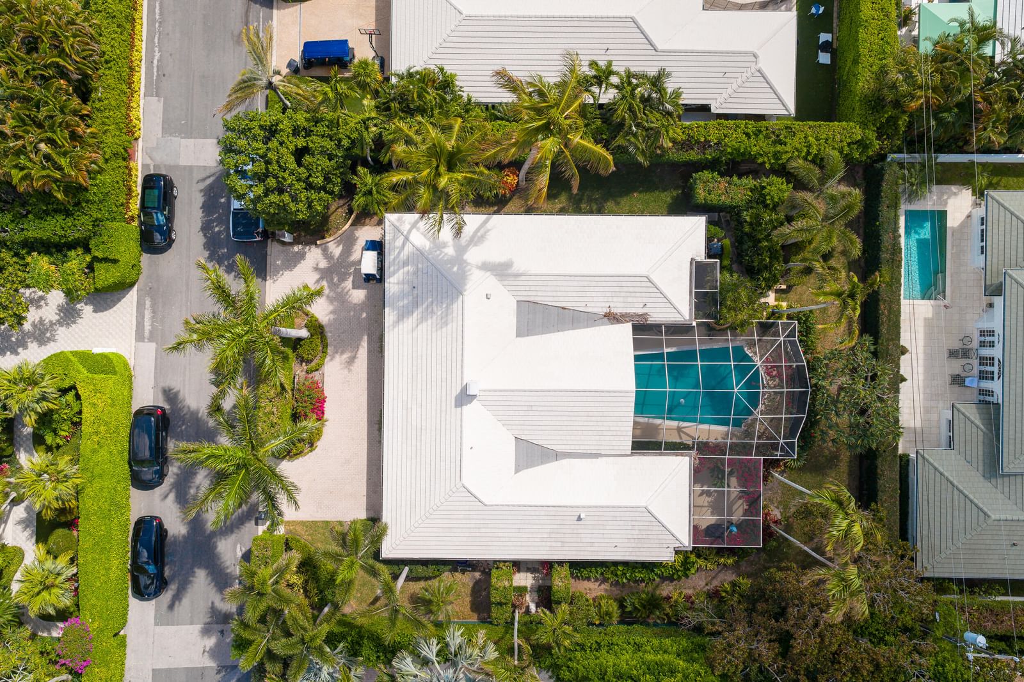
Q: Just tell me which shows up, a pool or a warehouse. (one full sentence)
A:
Visible in the photo is a pool.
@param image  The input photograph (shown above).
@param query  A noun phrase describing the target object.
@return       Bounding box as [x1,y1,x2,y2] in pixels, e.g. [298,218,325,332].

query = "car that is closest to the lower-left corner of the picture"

[123,517,167,599]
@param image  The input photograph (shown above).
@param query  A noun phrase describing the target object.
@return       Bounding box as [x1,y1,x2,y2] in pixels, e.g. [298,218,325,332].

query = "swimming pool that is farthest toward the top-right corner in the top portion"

[900,205,956,307]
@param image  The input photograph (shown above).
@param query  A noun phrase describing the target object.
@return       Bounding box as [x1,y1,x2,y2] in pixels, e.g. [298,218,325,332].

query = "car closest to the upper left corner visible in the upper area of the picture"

[135,173,179,250]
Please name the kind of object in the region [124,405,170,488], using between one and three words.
car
